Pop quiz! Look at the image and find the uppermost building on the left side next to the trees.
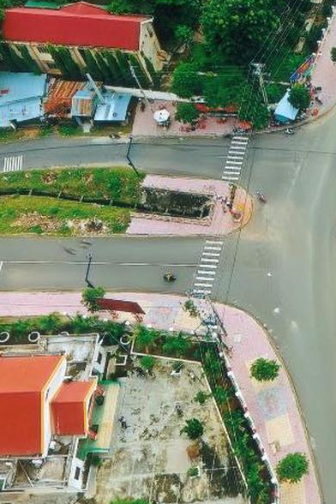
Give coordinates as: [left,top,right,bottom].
[4,0,168,83]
